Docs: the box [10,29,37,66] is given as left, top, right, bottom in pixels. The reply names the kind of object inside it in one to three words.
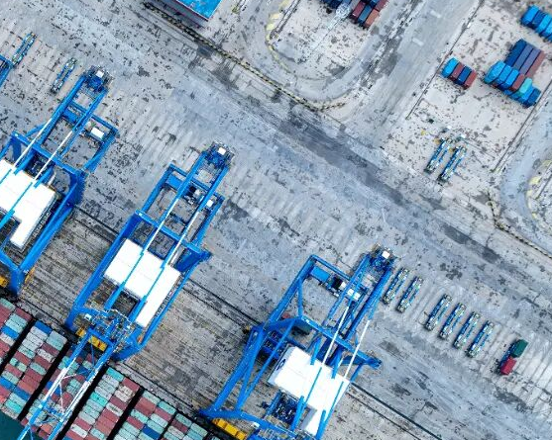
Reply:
vehicle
